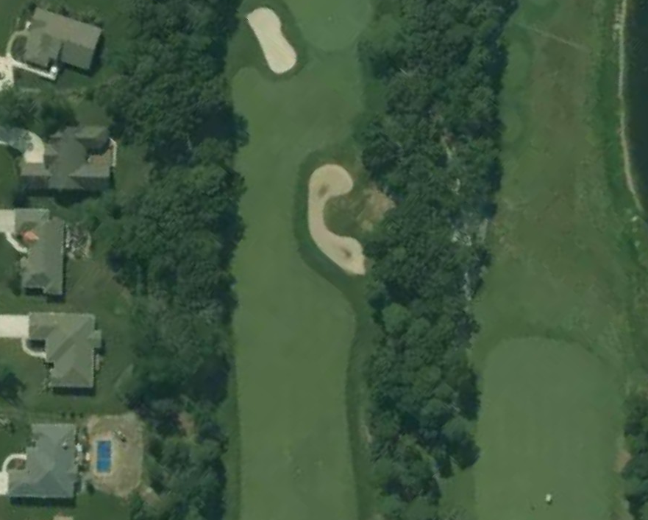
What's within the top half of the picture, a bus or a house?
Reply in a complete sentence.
Visible within the top half of the picture is a house.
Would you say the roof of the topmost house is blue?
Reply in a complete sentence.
No, the roof of the topmost house is actually gray.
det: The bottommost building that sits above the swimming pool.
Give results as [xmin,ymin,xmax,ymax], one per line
[28,312,101,388]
